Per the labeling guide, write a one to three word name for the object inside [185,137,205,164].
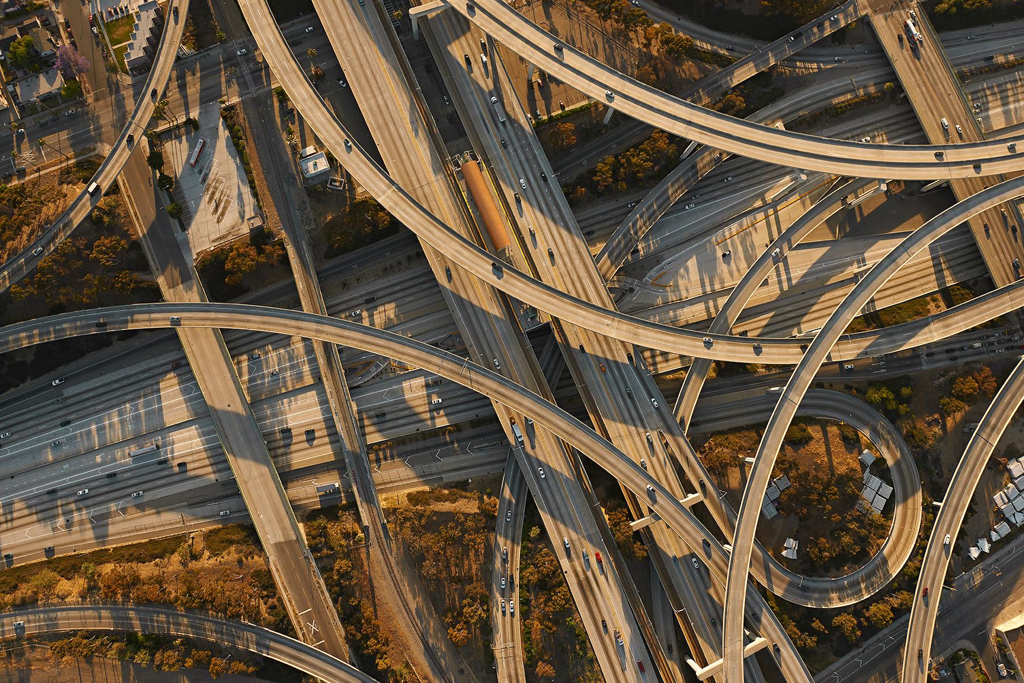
bus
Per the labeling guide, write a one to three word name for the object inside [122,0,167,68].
building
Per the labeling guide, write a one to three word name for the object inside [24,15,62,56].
house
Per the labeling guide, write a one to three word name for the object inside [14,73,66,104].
house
